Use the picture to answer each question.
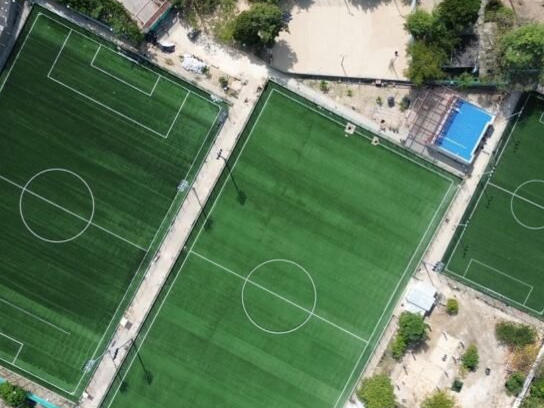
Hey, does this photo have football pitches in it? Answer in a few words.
Yes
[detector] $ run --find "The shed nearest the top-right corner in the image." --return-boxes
[447,53,474,69]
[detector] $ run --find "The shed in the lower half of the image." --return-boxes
[405,280,438,311]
